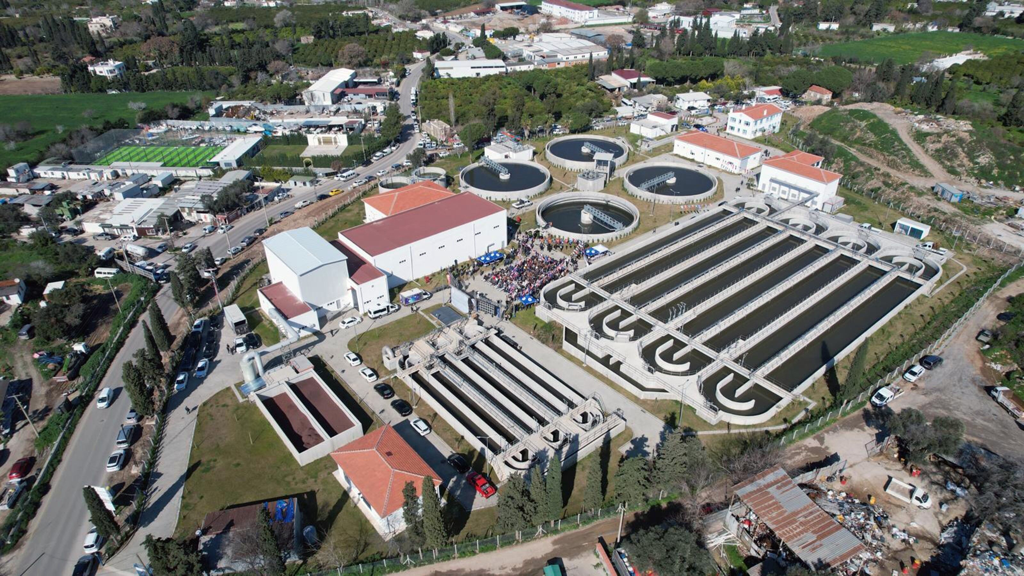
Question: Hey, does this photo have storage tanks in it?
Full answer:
Yes, you can see a storage tank in this photo.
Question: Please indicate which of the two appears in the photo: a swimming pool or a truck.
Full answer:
I can see a truck in this picture.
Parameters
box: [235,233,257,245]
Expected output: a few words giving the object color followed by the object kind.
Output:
gray vehicle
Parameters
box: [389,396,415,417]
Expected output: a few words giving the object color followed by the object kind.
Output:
black car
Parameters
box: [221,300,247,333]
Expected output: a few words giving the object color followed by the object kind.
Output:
white truck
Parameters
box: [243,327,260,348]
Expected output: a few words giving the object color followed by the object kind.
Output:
black car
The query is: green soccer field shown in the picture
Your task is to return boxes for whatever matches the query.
[92,146,220,166]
